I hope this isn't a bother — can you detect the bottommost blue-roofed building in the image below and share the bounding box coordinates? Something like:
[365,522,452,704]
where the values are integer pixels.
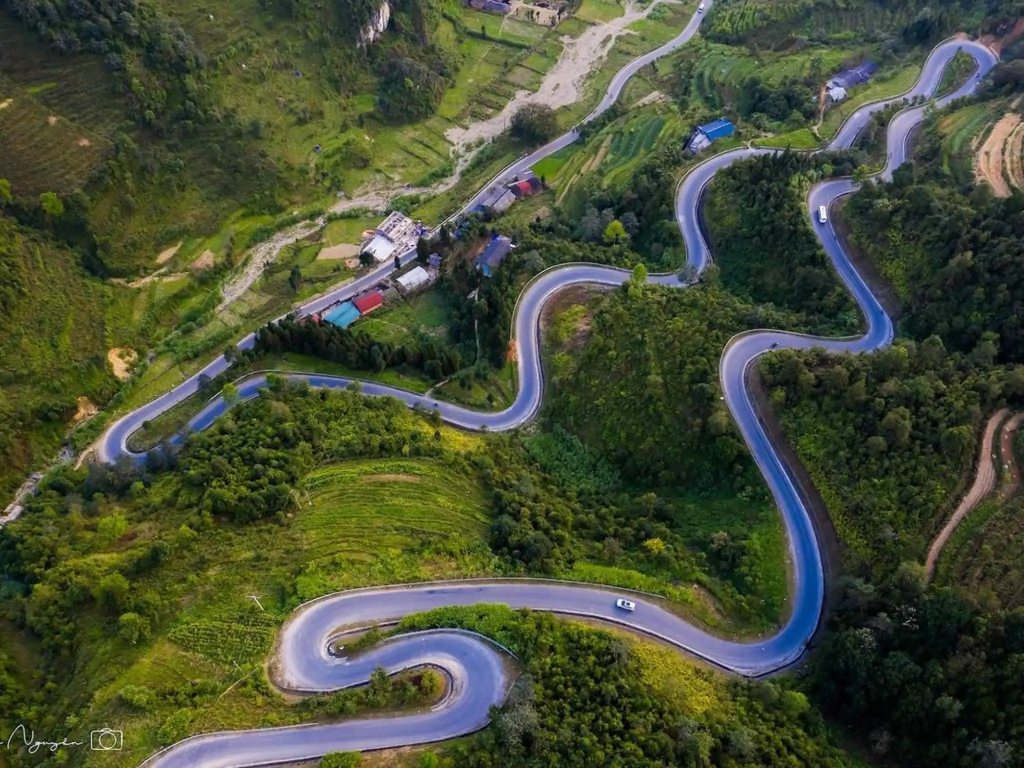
[326,302,364,331]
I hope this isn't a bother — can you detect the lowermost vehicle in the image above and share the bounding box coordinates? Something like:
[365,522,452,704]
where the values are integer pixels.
[615,599,636,612]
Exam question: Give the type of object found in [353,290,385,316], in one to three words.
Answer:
house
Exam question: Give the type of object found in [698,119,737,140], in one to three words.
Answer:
house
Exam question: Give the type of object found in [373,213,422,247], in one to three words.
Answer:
building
